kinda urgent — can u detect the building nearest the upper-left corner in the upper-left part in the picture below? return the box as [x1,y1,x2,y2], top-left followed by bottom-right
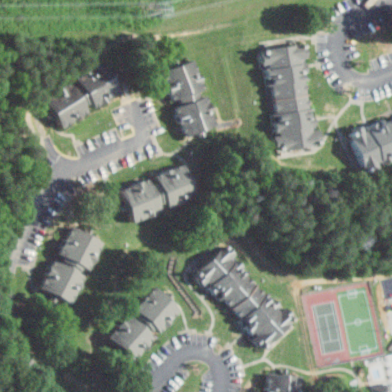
[45,66,114,129]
